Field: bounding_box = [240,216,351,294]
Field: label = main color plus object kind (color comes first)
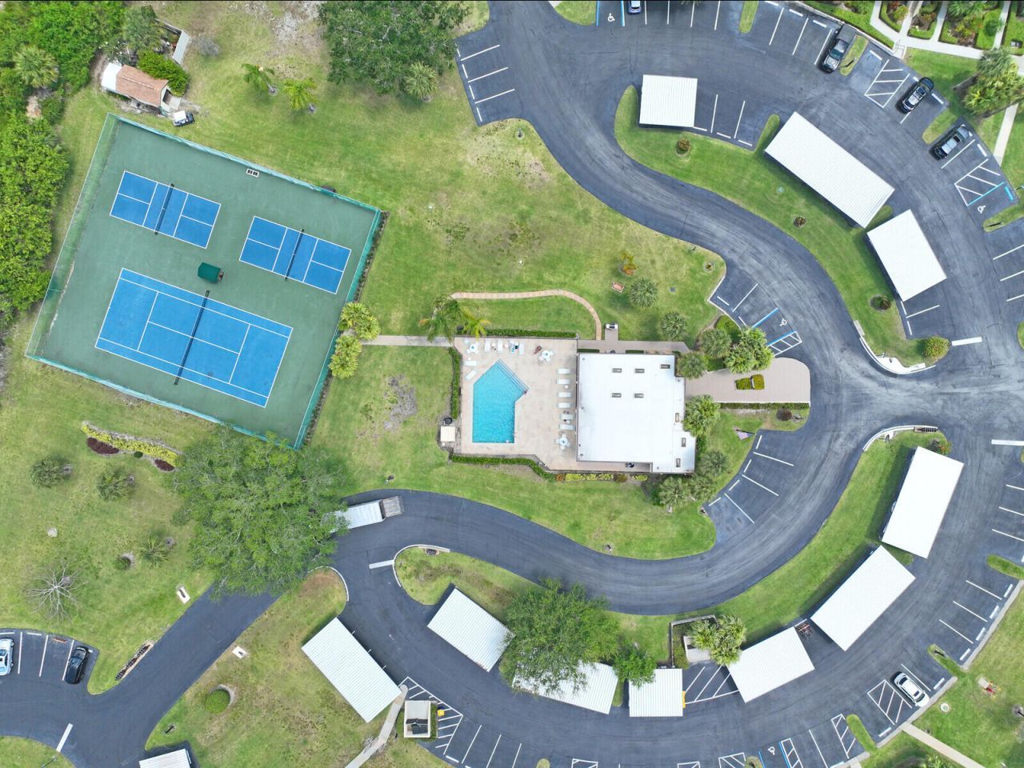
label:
blue sports court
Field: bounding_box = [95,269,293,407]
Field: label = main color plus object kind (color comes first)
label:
blue tennis court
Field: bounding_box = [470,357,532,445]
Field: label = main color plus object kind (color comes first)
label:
blue swimming pool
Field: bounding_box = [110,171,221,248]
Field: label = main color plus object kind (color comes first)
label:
blue sports court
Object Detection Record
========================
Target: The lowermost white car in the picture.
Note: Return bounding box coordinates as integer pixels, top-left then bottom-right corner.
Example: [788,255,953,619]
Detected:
[891,670,928,708]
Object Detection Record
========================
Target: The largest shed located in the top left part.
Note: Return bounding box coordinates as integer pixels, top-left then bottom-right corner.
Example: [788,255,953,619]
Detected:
[101,63,183,110]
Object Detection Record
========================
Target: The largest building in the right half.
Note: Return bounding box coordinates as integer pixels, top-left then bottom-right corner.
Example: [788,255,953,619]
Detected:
[576,354,695,473]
